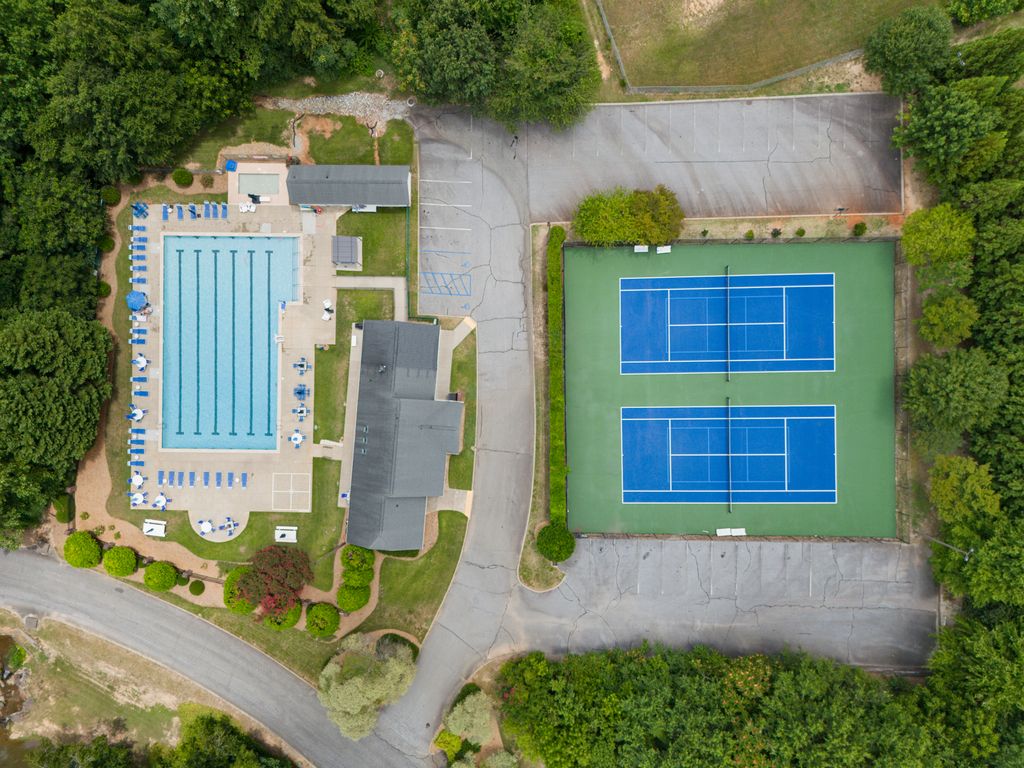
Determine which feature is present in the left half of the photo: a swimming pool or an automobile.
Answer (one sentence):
What appears in the left half of the photo is a swimming pool.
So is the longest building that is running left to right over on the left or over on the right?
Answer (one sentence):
The longest building that is running left to right sits on the left side.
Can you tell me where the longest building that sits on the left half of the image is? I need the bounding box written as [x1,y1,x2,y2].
[345,320,464,550]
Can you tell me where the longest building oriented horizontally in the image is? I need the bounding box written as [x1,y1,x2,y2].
[286,165,412,207]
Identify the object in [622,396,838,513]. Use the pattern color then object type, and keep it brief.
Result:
blue tennis court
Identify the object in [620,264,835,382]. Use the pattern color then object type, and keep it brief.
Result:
blue tennis court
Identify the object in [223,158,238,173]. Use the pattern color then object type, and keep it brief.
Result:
blue umbrella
